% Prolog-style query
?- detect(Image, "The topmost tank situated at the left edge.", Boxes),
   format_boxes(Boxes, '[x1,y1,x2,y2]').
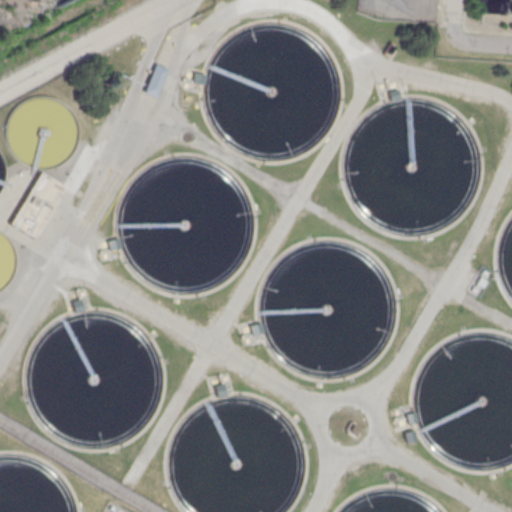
[6,96,78,172]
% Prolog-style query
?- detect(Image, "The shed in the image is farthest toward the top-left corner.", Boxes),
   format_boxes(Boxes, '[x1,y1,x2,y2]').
[146,63,168,96]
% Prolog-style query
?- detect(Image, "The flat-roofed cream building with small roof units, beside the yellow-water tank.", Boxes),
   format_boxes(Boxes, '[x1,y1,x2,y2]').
[11,173,66,238]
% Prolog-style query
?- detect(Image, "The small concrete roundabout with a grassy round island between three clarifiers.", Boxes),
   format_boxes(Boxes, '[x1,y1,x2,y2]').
[318,396,380,458]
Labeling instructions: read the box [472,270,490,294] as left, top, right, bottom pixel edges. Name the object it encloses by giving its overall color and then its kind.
white vehicle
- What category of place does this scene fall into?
industrial area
